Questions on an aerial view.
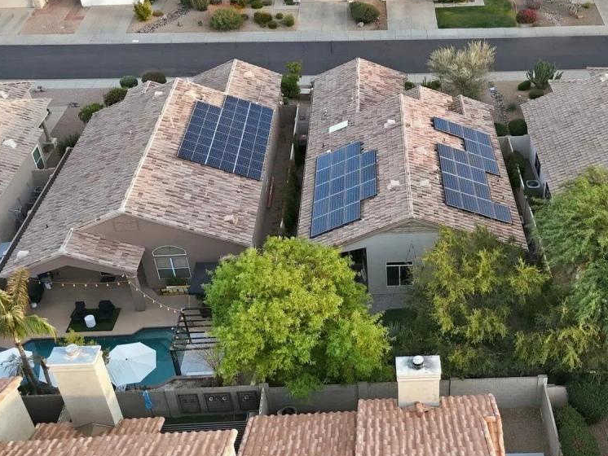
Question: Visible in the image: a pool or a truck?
pool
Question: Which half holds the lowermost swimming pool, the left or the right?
left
